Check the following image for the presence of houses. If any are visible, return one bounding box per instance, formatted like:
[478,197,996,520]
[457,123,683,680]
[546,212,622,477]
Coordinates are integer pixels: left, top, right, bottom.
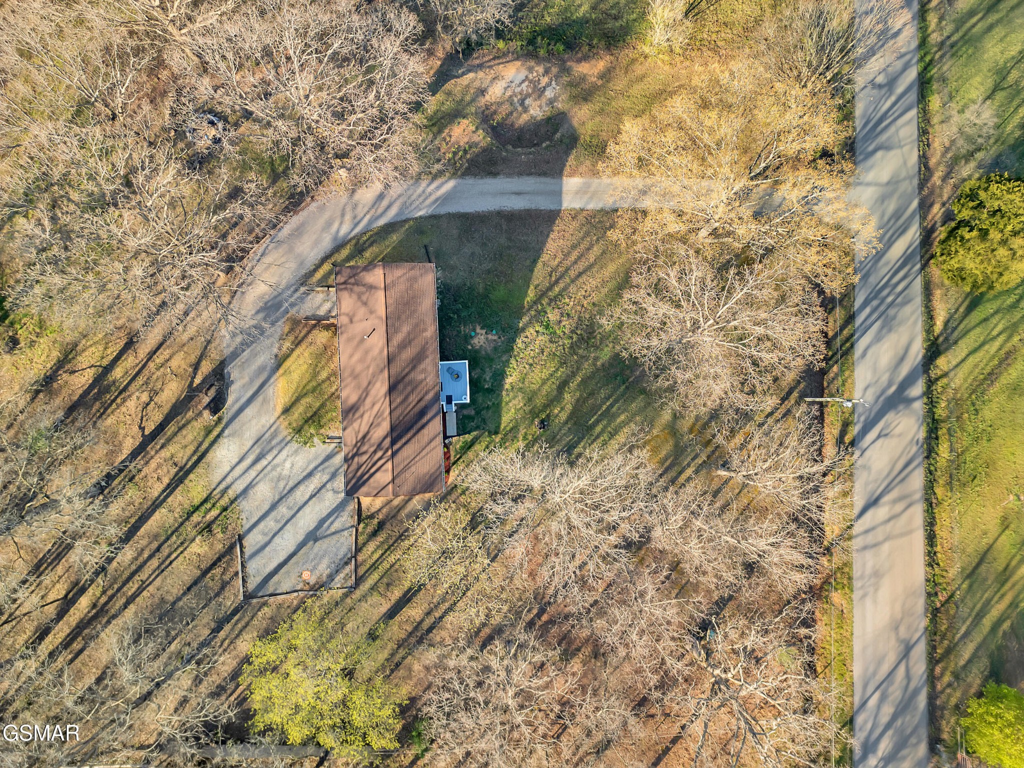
[333,262,446,497]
